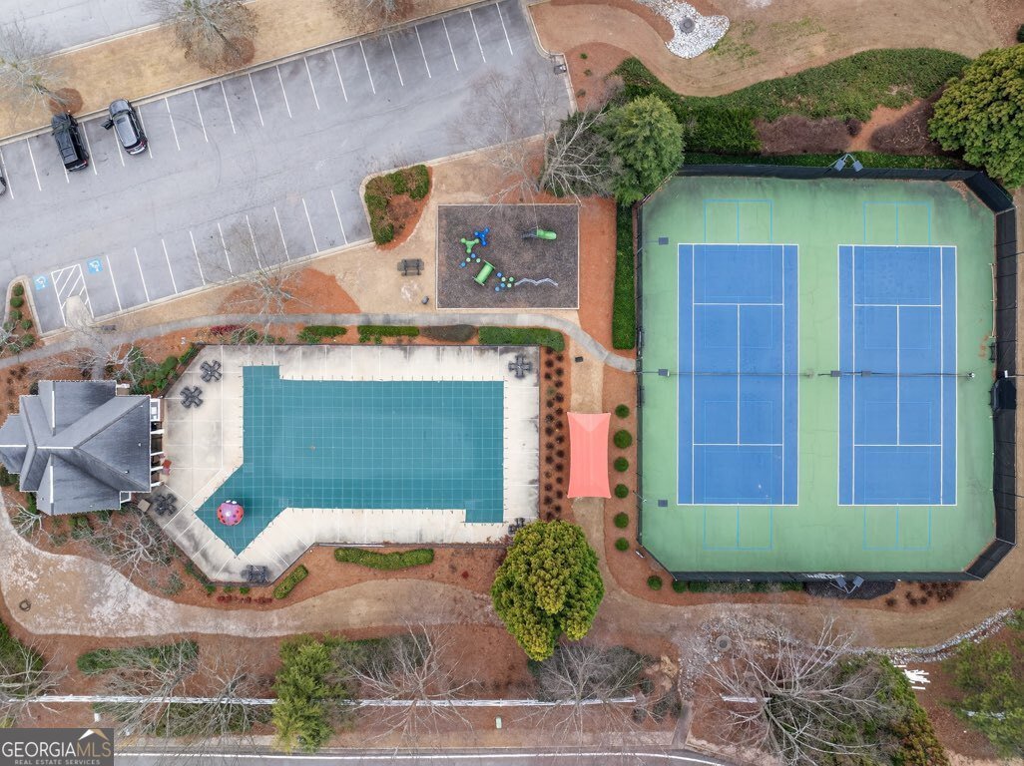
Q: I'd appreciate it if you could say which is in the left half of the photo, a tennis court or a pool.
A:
pool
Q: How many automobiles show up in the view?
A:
two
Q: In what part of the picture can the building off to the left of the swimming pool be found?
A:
left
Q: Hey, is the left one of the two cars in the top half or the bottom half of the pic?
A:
top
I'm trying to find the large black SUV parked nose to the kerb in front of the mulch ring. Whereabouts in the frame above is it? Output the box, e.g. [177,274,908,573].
[48,108,87,168]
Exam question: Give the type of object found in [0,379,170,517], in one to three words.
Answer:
building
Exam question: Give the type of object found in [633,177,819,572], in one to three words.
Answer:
tennis court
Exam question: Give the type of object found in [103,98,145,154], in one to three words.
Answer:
car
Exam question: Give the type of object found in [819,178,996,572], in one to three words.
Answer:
tennis court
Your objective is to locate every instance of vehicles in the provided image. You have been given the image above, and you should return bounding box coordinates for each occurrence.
[48,108,87,168]
[103,98,145,154]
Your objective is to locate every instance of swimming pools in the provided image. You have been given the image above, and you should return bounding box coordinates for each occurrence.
[194,361,508,555]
